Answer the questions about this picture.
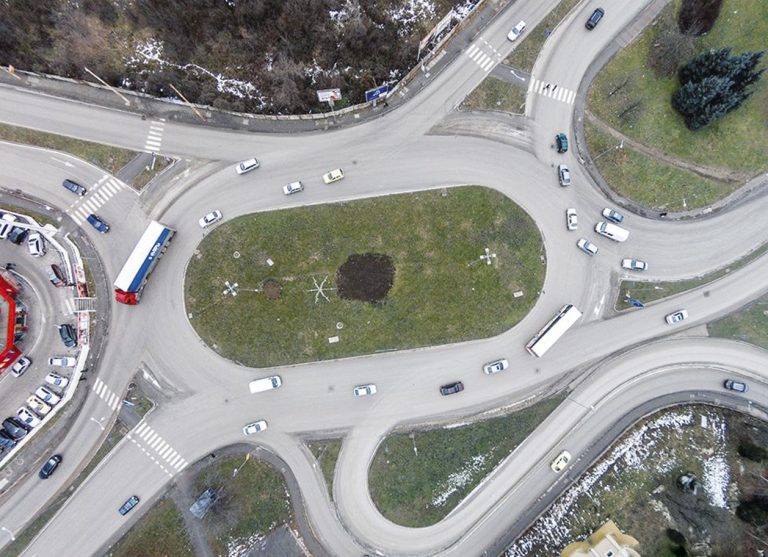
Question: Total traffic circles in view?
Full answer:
The count comes to 1 traffic circle.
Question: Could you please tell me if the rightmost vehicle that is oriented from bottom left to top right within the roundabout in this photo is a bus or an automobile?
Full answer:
The rightmost vehicle that is oriented from bottom left to top right within the roundabout in the image is a bus.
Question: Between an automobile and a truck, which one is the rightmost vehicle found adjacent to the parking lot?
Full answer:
In the photo, the rightmost vehicle found adjacent to the parking lot shows up as a truck.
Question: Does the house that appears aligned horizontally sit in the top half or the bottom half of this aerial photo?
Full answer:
You can find the house that appears aligned horizontally in the bottom half.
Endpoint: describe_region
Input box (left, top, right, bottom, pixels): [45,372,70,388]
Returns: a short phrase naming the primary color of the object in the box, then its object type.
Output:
white car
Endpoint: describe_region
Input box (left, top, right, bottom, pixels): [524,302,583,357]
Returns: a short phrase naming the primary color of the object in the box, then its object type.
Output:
white bus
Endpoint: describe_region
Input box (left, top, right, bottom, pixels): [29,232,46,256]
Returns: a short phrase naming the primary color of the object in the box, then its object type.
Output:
white car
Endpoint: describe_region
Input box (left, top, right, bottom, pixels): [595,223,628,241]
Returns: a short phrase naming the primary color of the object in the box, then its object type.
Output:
white vehicle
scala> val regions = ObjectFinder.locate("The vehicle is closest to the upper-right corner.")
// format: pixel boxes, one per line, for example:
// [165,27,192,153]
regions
[583,8,604,32]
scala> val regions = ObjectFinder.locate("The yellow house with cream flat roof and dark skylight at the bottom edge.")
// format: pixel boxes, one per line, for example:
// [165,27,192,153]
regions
[560,520,652,557]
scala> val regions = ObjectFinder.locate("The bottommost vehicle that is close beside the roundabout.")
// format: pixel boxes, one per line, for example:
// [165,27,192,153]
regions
[243,419,268,435]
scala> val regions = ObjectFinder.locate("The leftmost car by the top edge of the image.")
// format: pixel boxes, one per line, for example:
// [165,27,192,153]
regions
[506,20,526,43]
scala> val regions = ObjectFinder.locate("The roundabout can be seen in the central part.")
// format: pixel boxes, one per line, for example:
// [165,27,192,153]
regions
[130,132,599,421]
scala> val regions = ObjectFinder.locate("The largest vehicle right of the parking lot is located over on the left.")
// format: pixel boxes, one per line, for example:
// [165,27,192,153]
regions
[113,220,173,302]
